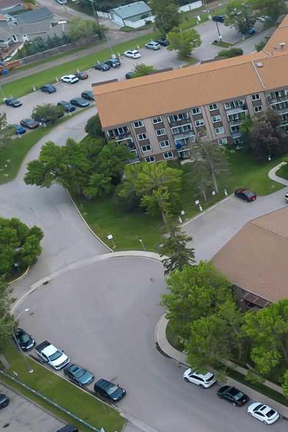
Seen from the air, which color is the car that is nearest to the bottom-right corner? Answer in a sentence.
In this view, the car that is nearest to the bottom-right corner is white.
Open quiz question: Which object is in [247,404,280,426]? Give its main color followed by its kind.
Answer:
white car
